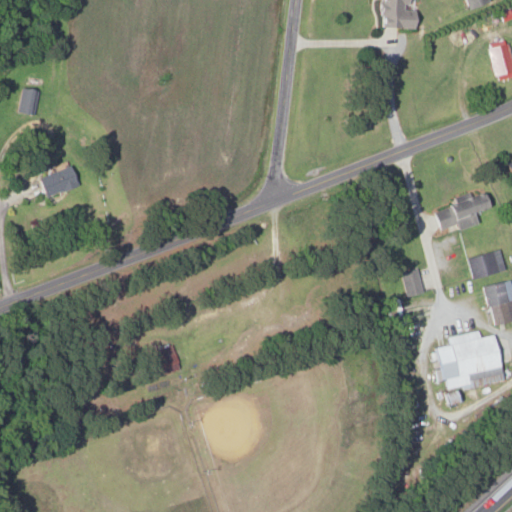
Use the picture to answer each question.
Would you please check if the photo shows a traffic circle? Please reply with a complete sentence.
No, there is no traffic circle in the image.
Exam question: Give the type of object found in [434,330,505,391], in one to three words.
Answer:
building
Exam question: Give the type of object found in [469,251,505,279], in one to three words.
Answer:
building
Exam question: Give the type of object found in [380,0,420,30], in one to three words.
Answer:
house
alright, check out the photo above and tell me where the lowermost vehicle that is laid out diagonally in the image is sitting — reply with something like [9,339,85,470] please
[482,480,512,508]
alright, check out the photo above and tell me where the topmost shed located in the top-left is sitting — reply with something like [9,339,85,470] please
[17,86,39,115]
